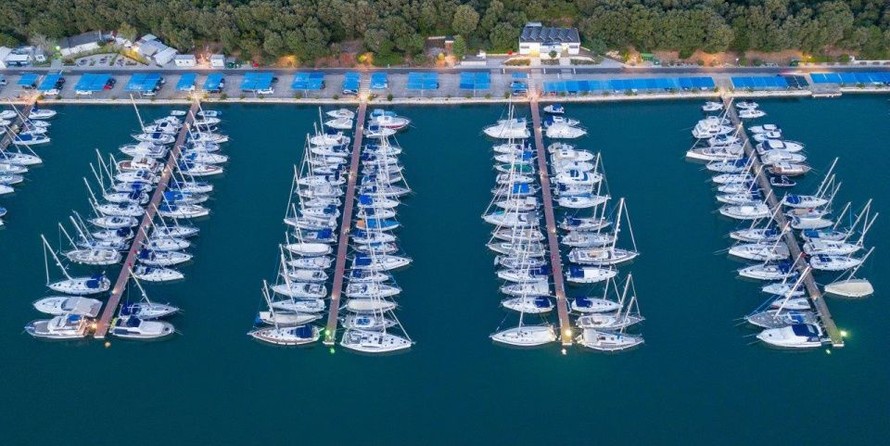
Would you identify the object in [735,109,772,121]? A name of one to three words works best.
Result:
boat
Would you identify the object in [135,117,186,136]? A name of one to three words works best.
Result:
boat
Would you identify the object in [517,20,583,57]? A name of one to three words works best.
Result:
building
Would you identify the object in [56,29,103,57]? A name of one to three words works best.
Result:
building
